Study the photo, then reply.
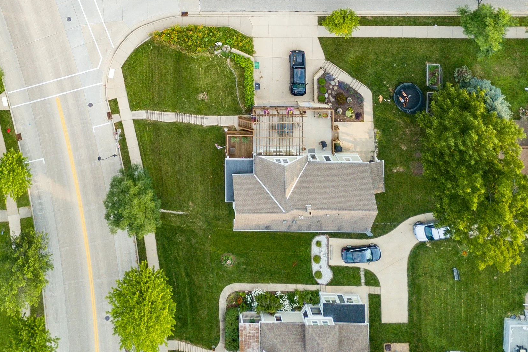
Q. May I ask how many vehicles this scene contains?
3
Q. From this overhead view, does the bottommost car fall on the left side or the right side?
right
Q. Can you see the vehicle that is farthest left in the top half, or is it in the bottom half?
top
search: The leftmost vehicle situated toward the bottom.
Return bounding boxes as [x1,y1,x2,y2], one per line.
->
[341,243,381,265]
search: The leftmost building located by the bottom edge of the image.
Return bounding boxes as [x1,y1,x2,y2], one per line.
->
[239,289,369,352]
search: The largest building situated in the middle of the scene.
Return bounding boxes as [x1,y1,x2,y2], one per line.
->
[224,136,385,236]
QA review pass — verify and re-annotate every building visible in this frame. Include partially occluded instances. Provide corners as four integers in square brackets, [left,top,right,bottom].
[224,136,385,236]
[239,289,369,352]
[506,302,528,352]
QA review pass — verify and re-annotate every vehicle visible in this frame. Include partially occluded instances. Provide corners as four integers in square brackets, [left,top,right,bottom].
[288,49,309,96]
[341,243,381,265]
[410,220,457,244]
